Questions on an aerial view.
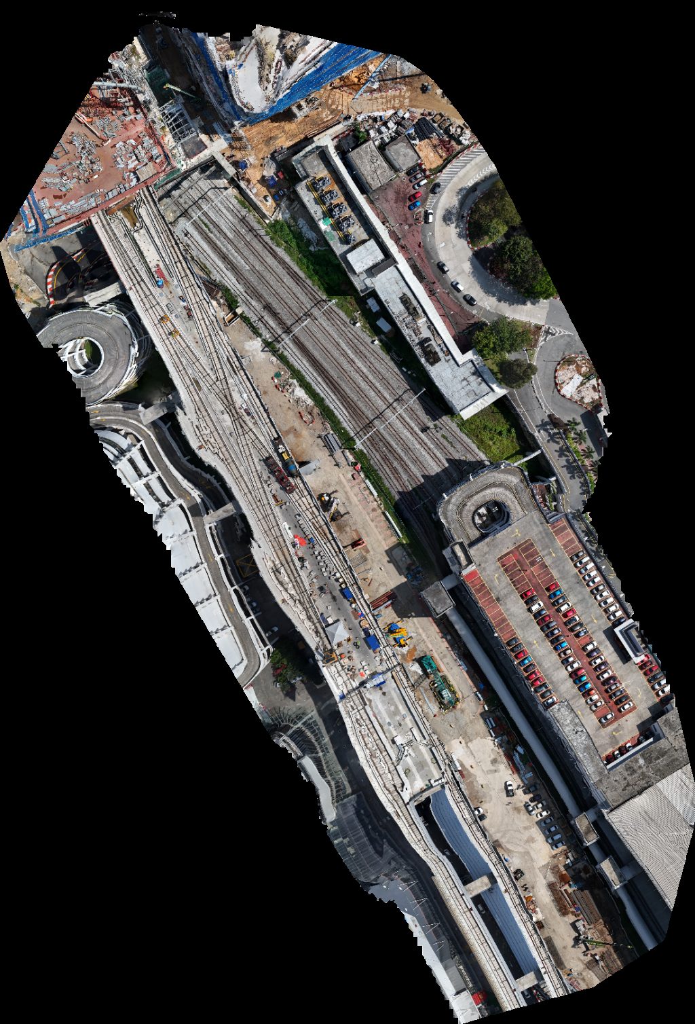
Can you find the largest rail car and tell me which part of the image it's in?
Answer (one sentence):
The largest rail car sits in the center section of the image.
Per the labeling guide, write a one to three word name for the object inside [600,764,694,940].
building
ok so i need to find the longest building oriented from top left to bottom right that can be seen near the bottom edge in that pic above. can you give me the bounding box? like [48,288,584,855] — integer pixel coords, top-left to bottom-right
[370,866,481,1023]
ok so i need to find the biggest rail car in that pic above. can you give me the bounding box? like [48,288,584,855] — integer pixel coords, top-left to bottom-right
[274,447,297,478]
